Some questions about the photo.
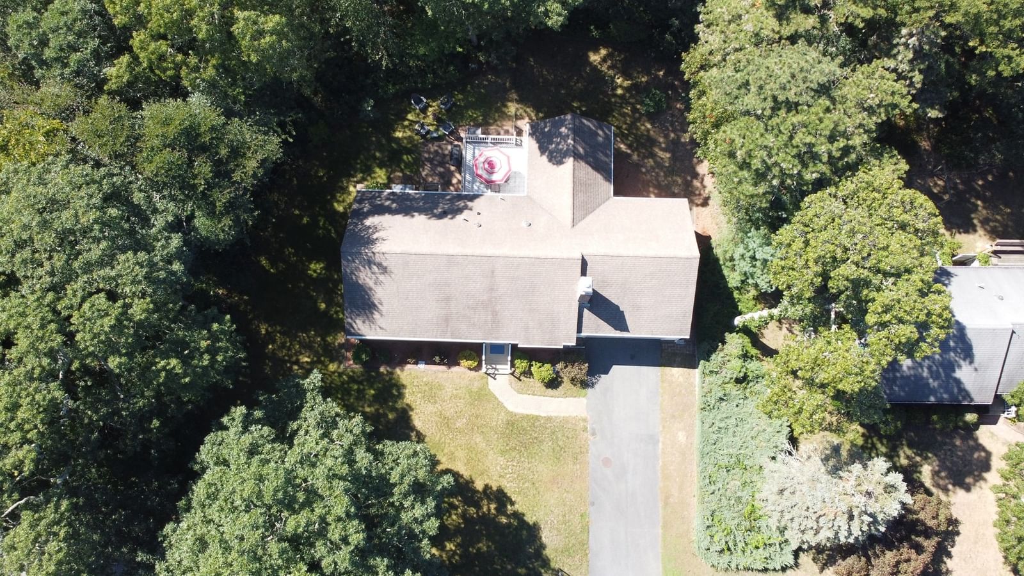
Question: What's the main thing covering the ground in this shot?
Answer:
trees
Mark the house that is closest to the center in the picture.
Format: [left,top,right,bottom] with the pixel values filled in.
[341,114,700,374]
